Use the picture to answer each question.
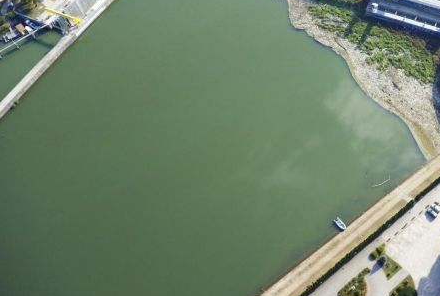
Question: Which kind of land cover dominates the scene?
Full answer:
The largest share of the image is taken up by water.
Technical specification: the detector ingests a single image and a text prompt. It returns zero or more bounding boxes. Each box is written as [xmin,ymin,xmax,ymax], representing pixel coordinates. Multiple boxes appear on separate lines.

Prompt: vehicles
[431,203,440,212]
[426,207,437,217]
